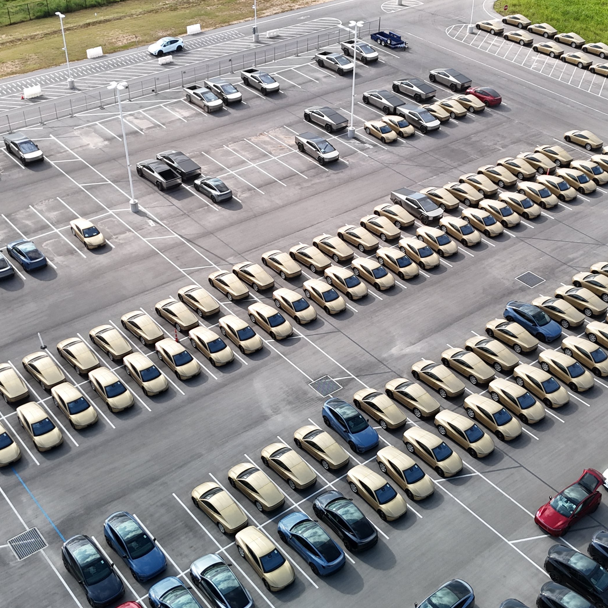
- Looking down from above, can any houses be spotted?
No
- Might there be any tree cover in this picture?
No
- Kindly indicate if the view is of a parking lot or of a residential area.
parking lot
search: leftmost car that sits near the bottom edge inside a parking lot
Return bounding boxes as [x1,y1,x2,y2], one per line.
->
[59,533,124,608]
